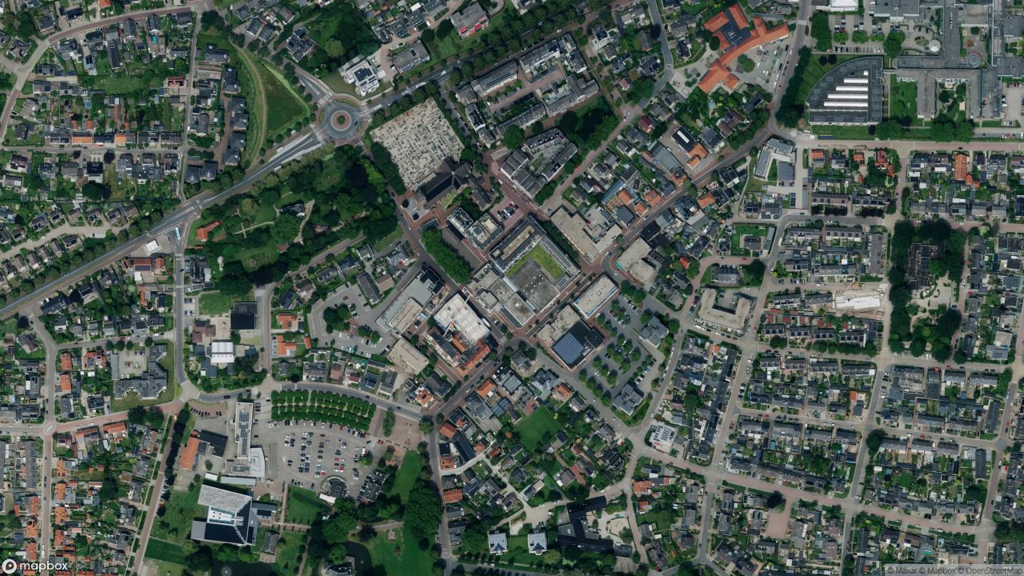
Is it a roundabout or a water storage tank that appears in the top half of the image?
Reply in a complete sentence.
The feature located in the top half of the image is a roundabout.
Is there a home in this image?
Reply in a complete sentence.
Yes, there's a home here.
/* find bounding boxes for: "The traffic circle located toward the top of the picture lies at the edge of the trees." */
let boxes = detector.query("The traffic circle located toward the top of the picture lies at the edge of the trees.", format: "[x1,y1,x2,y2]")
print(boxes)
[316,95,366,145]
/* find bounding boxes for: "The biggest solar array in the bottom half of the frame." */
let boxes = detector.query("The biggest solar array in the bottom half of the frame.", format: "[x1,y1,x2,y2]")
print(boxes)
[554,335,584,363]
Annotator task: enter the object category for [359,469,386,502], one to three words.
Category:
building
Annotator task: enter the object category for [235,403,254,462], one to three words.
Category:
building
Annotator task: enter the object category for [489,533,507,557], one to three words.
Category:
house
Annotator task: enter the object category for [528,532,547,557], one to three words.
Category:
house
